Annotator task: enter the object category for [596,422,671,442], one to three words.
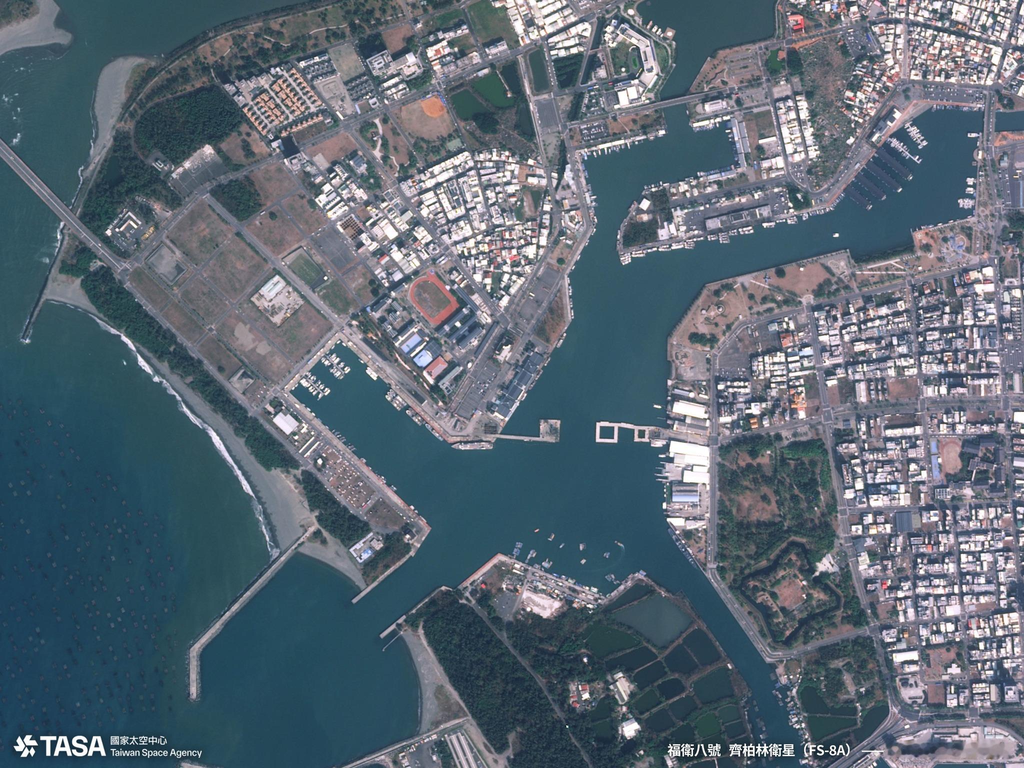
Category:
pier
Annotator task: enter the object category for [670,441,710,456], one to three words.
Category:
building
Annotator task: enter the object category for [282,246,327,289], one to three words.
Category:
sports field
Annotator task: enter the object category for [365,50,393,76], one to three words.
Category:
building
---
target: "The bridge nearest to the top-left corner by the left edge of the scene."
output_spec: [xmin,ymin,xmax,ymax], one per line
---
[0,142,129,269]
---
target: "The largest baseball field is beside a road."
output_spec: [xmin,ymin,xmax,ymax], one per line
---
[401,92,453,139]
